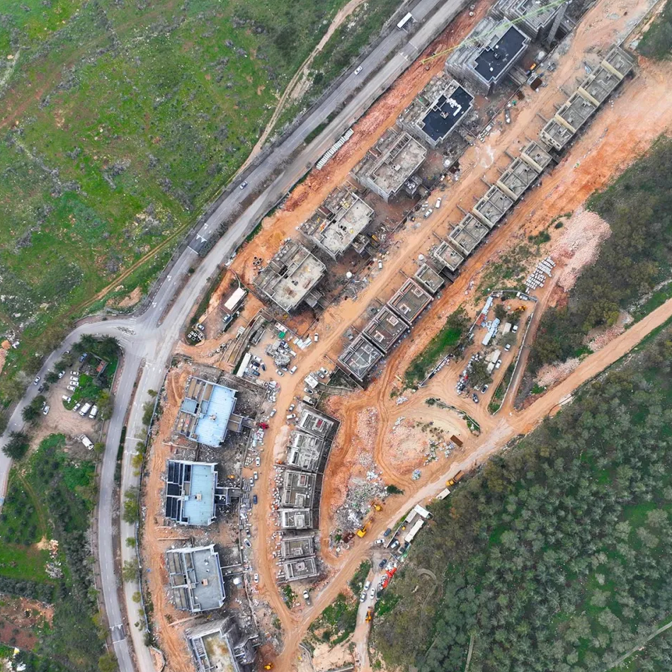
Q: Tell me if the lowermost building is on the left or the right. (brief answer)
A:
left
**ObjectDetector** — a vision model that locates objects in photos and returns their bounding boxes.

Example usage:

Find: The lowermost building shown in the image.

[192,622,248,672]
